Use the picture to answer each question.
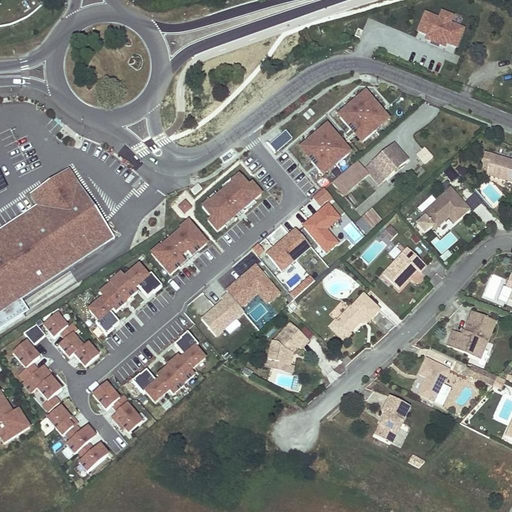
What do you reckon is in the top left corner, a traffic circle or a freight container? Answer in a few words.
traffic circle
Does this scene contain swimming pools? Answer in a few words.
Yes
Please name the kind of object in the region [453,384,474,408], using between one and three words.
swimming pool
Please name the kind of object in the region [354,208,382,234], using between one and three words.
shed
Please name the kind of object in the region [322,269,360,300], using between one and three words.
swimming pool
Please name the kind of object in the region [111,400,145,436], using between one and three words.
house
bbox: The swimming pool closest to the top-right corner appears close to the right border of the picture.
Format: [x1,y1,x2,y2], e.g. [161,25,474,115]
[480,181,504,206]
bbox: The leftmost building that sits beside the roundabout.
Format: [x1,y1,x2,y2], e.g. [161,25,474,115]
[0,166,114,312]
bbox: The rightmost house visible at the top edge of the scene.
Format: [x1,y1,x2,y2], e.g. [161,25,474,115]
[416,9,466,48]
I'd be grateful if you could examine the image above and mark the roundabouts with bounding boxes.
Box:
[44,2,172,130]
